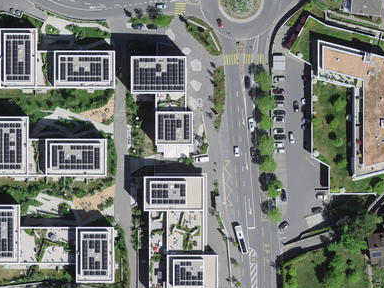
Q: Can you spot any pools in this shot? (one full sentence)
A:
No, this view has no pool in it.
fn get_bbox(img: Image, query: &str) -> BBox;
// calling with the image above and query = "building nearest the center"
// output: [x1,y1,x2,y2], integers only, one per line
[156,112,194,144]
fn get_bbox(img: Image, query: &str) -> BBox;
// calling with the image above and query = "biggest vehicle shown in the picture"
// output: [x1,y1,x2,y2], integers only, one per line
[234,224,248,254]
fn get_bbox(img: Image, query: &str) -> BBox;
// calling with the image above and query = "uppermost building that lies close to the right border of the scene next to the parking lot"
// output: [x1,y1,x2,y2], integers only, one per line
[318,40,384,180]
